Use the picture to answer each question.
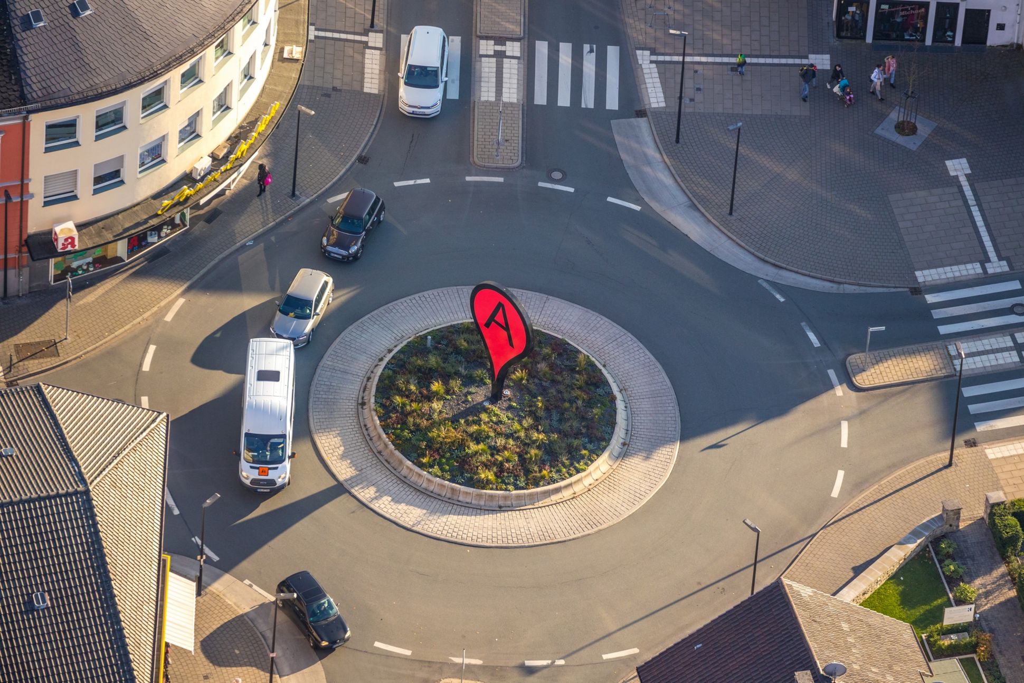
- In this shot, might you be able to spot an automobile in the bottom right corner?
No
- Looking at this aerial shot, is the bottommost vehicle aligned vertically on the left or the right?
left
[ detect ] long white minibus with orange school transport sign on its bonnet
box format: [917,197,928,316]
[235,338,297,491]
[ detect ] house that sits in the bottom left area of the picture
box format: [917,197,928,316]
[0,379,172,683]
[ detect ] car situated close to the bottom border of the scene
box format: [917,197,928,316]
[281,569,353,650]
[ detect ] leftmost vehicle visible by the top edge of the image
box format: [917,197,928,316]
[396,26,449,118]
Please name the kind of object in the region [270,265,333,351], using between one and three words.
car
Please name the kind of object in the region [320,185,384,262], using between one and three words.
car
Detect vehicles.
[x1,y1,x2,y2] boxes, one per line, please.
[320,185,384,262]
[396,26,449,118]
[235,338,297,491]
[270,265,333,351]
[281,569,353,650]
